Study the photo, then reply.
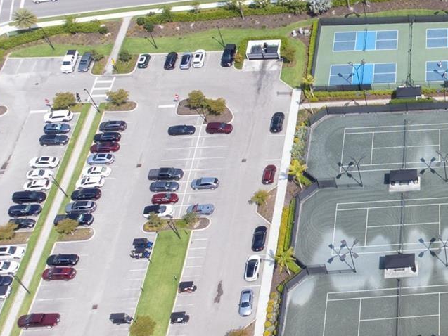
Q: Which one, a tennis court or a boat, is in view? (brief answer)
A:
tennis court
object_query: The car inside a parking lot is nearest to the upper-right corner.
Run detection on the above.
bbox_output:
[270,112,285,133]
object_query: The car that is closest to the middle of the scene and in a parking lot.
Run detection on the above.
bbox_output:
[193,178,219,190]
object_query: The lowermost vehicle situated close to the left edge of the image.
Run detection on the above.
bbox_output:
[19,312,60,328]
